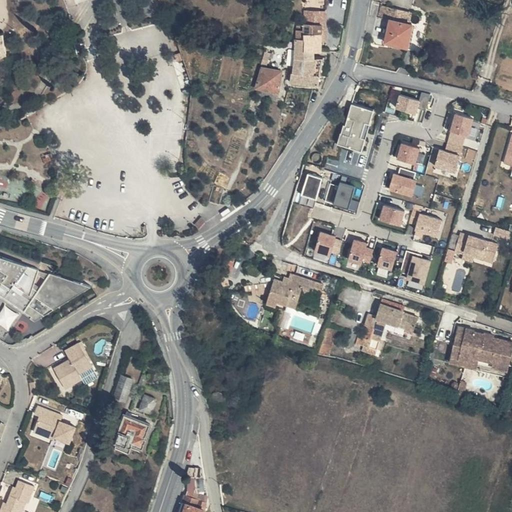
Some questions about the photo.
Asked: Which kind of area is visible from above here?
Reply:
residential area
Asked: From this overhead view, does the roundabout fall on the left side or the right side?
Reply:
left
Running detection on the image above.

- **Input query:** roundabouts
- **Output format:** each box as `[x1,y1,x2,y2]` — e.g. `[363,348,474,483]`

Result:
[129,246,189,306]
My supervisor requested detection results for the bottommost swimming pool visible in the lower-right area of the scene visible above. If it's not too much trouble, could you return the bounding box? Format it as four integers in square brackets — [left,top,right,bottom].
[474,378,493,392]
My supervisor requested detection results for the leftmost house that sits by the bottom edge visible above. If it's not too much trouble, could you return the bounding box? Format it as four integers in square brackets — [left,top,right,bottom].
[0,482,34,512]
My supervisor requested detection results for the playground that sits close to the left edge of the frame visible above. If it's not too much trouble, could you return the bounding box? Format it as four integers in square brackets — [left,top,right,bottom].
[0,176,48,214]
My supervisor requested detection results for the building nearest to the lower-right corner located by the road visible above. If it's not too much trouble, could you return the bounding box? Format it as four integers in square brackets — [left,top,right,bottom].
[450,326,512,376]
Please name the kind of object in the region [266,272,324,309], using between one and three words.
house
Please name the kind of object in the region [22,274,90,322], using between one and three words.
building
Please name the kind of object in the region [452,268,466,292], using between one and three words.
swimming pool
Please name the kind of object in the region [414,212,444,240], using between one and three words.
house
